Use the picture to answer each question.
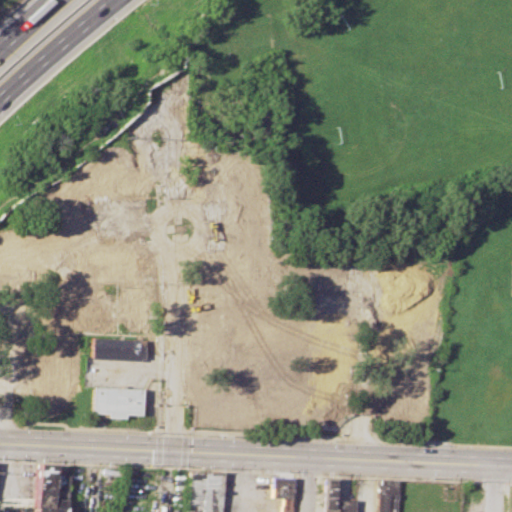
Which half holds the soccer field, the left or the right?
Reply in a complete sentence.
The soccer field sits on the right side.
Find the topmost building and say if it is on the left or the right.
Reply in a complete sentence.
The topmost building sits on the left side.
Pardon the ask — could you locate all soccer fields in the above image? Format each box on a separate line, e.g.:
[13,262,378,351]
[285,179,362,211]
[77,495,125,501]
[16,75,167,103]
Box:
[303,0,512,175]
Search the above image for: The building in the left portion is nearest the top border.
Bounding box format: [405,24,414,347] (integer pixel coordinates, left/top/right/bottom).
[90,338,148,362]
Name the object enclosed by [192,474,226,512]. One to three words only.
building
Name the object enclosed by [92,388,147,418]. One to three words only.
building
